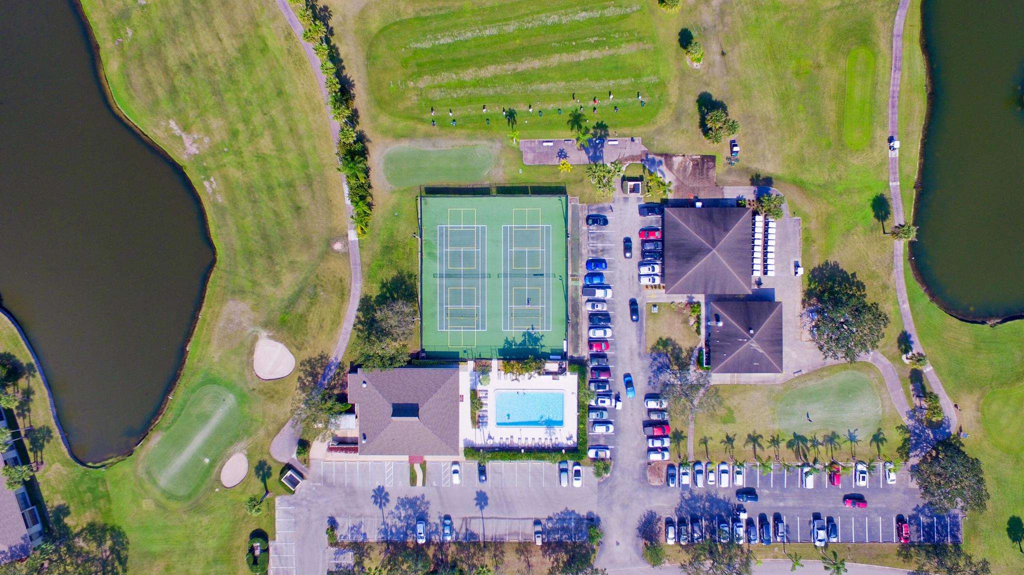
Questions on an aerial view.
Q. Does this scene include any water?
Yes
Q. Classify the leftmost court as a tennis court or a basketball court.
tennis court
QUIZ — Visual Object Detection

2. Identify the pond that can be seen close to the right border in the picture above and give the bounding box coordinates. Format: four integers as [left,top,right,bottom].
[914,0,1024,316]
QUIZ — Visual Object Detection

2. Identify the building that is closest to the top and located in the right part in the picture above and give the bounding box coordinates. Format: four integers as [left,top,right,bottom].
[663,207,752,294]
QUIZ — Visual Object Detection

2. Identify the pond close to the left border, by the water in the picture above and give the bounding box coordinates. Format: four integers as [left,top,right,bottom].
[0,0,211,462]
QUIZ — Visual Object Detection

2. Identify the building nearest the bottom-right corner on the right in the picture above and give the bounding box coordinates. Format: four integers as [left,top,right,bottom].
[710,301,783,374]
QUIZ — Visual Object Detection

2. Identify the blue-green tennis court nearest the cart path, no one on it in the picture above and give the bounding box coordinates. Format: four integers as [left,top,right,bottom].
[421,195,494,359]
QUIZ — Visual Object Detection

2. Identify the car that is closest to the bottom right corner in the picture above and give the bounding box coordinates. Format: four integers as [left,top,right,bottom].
[897,520,909,542]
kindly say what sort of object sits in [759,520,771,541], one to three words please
vehicle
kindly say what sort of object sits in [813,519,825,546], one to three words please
vehicle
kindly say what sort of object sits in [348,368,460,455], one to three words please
building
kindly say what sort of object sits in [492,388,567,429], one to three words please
swimming pool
